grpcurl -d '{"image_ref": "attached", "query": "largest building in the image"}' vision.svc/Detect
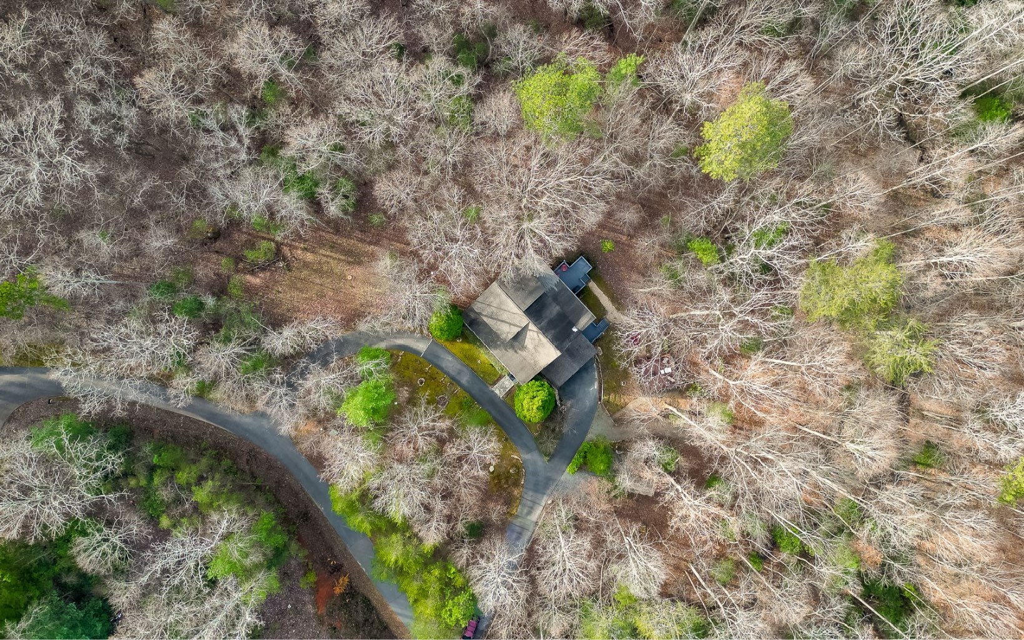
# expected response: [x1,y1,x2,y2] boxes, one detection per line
[463,248,599,389]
